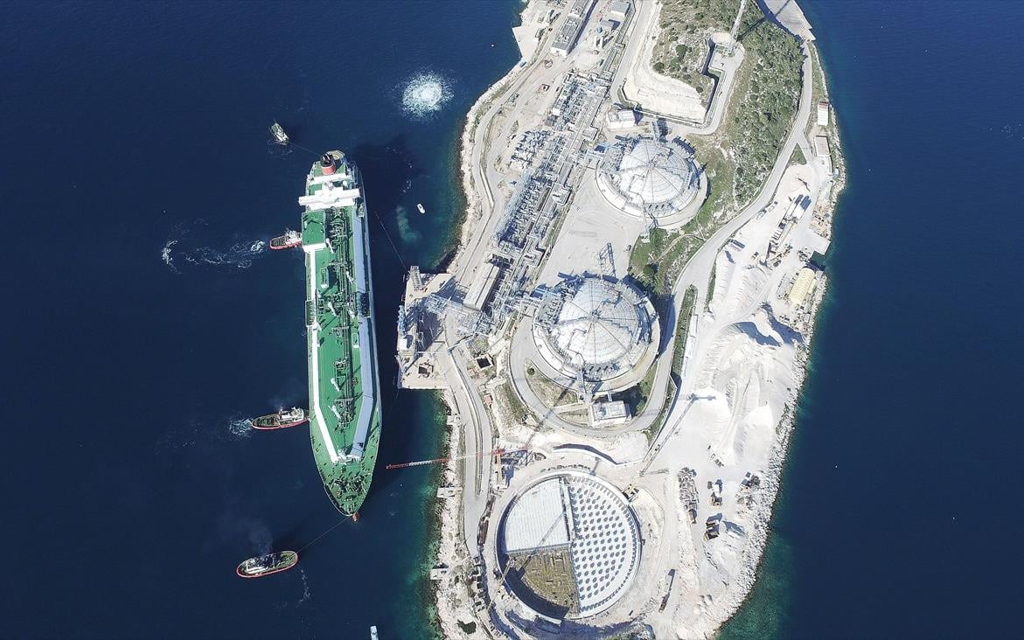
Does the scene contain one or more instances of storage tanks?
Yes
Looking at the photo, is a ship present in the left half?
Yes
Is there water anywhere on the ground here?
Yes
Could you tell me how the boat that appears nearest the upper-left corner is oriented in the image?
on a diagonal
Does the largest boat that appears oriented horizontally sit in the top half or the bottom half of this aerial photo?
bottom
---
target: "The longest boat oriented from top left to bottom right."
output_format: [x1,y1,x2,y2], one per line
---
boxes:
[269,123,289,144]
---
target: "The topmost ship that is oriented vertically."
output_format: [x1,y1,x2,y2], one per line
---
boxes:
[295,147,382,524]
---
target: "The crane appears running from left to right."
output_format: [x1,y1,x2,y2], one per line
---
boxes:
[386,448,528,487]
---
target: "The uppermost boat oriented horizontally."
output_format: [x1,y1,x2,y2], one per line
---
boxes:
[269,230,301,249]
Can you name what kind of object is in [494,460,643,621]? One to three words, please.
storage tank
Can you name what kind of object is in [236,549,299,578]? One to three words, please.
boat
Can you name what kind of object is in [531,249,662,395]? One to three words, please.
storage tank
